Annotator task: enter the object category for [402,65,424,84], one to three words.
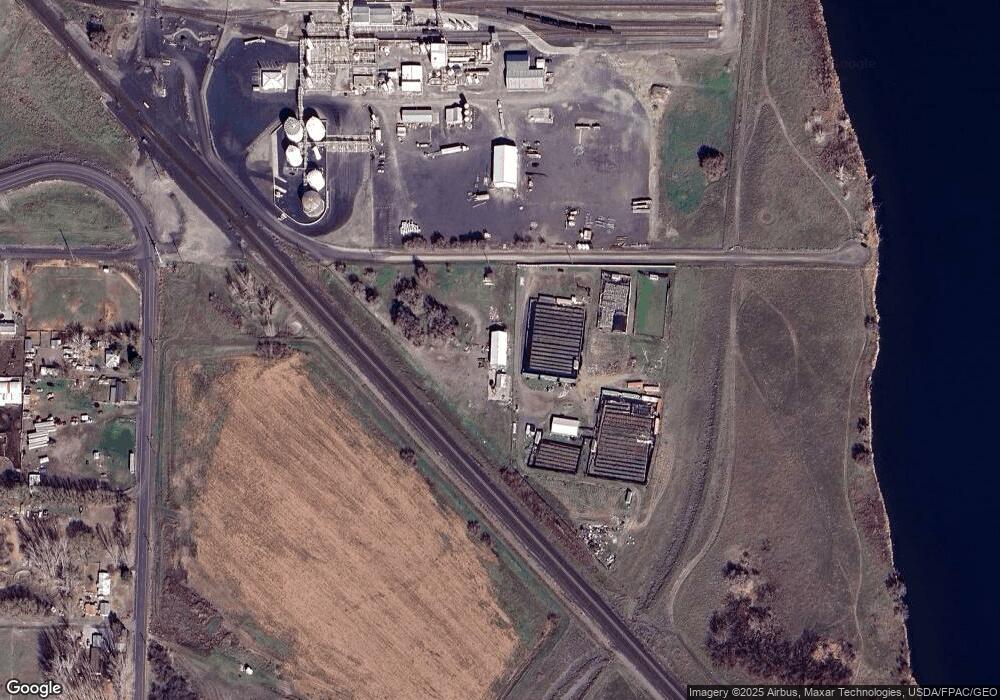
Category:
building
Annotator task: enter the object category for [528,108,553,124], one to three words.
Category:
shed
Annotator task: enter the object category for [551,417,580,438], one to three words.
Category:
barn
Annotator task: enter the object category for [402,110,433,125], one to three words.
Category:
building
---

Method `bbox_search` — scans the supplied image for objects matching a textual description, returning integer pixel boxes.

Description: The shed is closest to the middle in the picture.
[490,331,509,368]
